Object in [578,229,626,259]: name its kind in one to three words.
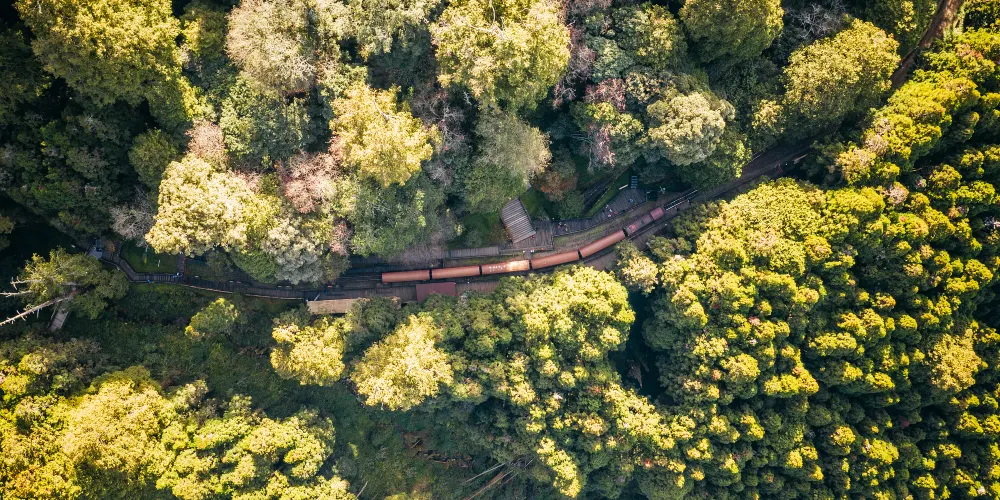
rail car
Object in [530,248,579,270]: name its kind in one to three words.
rail car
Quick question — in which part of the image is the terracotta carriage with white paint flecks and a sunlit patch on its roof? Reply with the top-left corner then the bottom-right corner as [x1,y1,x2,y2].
[481,258,529,275]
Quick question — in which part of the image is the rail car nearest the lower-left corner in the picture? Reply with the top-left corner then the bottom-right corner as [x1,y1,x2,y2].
[383,267,432,282]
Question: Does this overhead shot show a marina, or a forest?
forest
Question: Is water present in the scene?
No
